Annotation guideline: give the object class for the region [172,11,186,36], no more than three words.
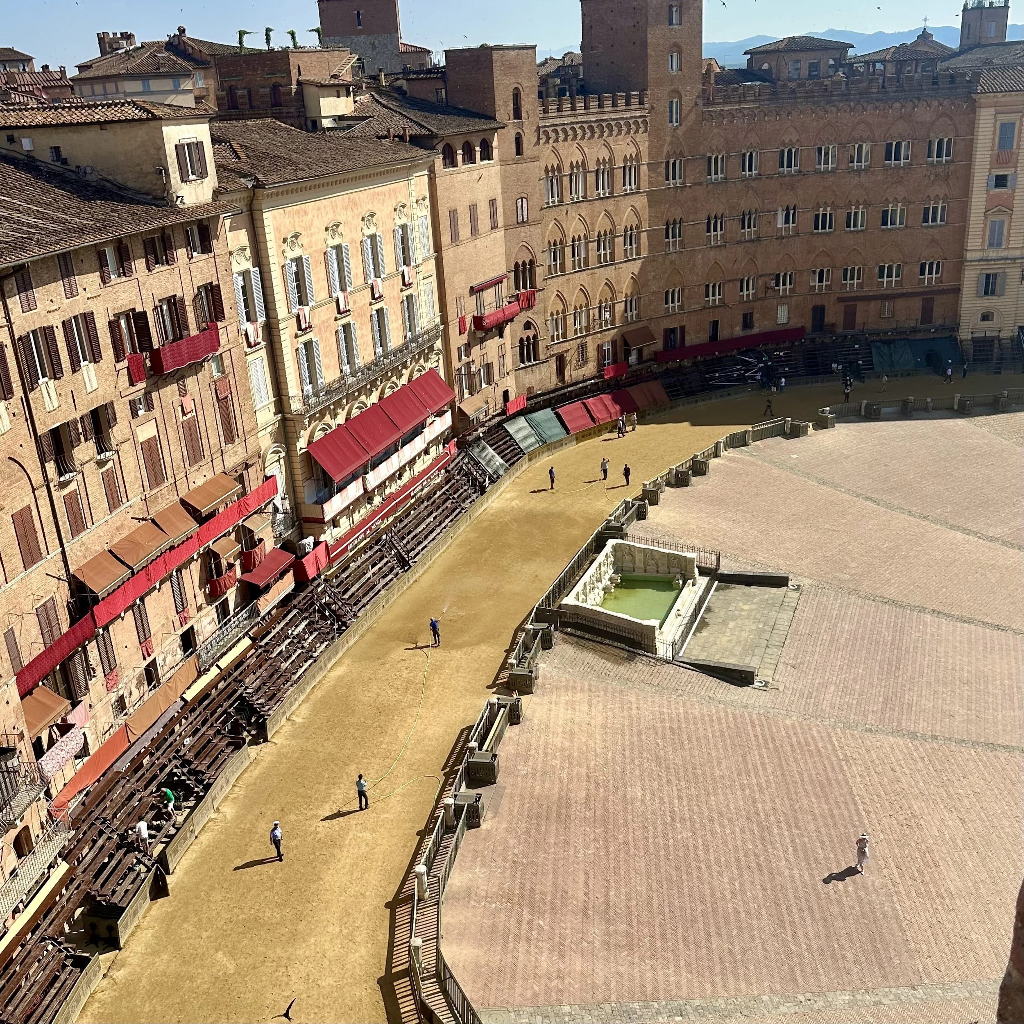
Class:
chimney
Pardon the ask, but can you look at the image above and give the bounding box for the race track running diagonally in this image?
[34,371,1024,1024]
